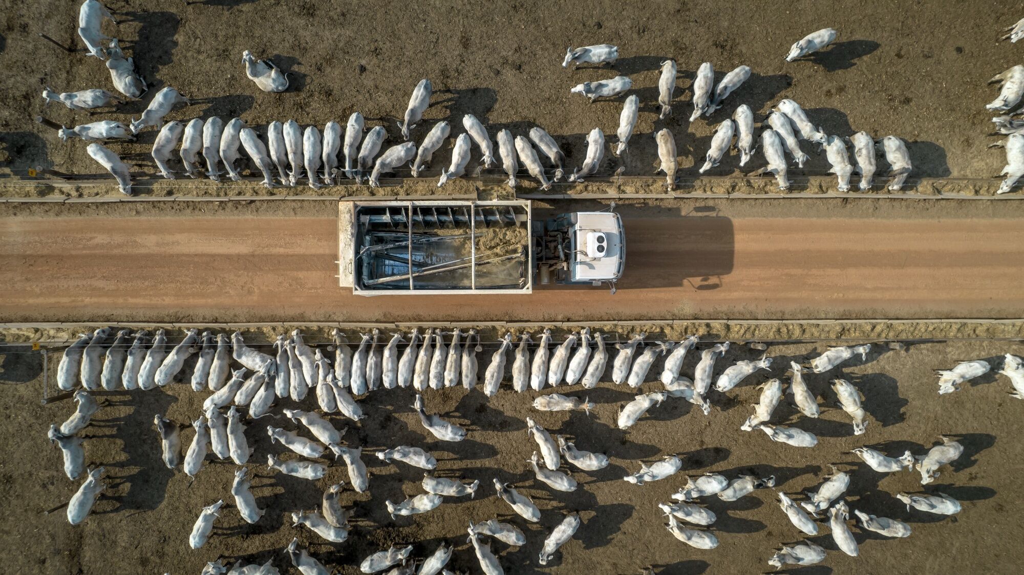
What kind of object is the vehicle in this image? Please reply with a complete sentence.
From above, the vehicle can be identified as a truck.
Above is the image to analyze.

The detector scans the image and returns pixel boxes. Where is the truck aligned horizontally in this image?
[335,190,626,297]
